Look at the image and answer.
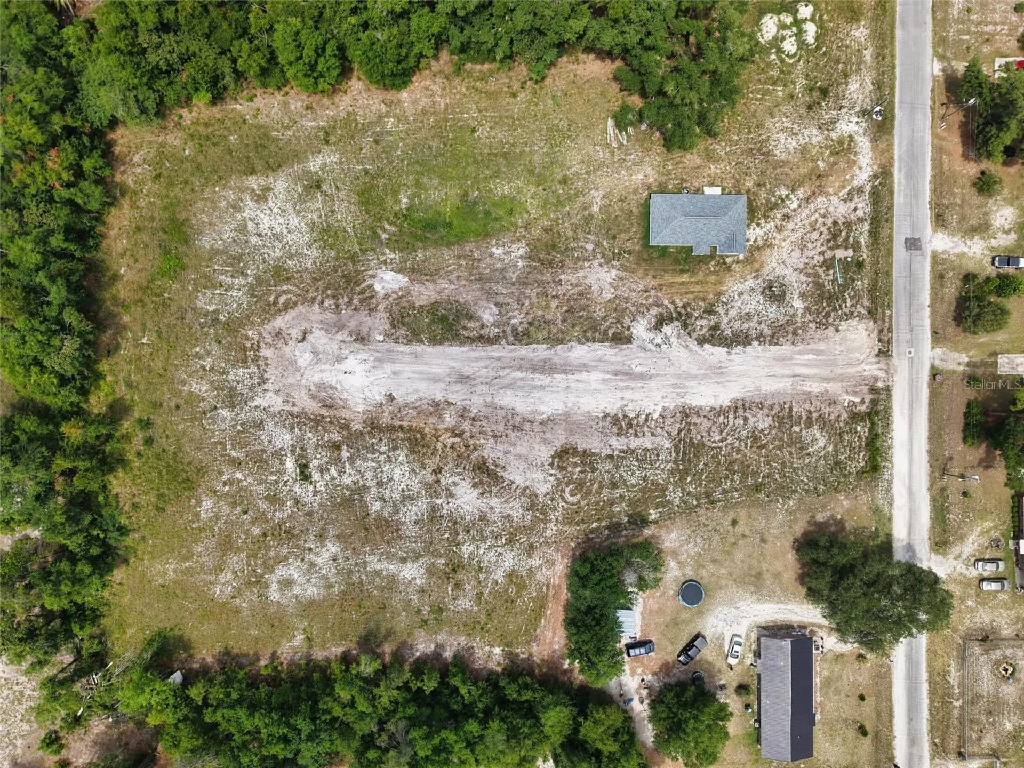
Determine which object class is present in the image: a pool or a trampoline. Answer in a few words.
trampoline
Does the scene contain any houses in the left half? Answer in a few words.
No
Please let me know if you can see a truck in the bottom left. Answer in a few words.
No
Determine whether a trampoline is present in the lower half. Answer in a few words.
Yes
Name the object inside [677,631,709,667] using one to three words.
truck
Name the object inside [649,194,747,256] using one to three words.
house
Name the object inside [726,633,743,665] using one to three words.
car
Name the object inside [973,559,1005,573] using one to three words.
car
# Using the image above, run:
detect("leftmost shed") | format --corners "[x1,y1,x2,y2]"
[617,606,637,638]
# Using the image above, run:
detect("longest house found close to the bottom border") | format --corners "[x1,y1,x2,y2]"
[757,632,815,763]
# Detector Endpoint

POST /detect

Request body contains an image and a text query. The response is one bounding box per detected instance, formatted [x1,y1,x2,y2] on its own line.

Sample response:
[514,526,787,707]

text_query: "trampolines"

[679,581,705,606]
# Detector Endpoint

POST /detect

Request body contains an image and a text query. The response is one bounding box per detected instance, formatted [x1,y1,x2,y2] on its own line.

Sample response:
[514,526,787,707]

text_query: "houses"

[649,194,747,256]
[1013,497,1024,590]
[757,632,815,763]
